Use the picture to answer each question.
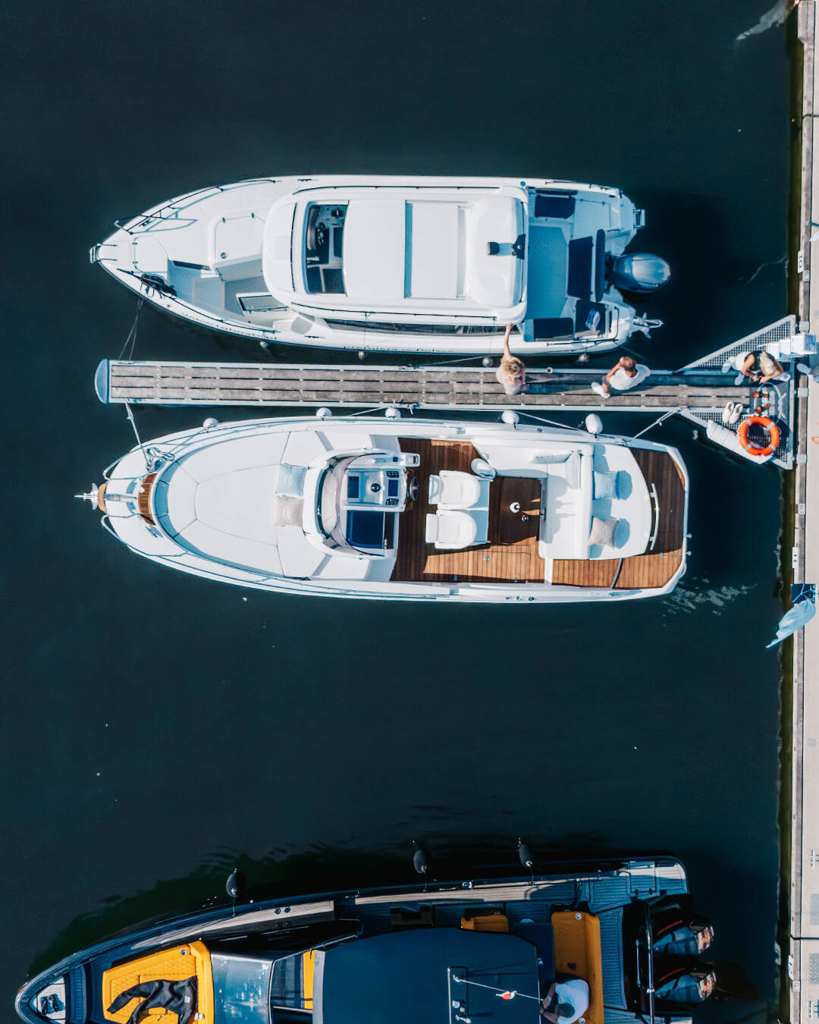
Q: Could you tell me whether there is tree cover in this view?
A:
No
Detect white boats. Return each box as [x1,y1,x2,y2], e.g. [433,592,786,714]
[72,416,692,603]
[88,174,671,353]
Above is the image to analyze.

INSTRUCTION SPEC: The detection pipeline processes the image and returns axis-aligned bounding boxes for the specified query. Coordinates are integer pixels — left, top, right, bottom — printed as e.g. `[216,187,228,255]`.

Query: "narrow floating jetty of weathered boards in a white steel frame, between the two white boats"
[96,315,809,469]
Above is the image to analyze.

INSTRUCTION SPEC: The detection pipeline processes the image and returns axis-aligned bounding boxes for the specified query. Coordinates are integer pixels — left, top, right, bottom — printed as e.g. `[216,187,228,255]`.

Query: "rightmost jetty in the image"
[776,0,819,1024]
